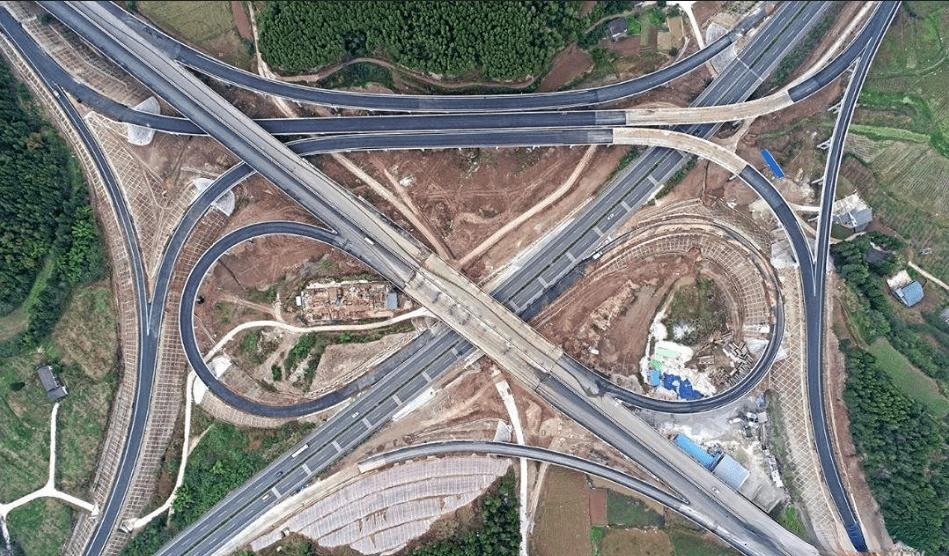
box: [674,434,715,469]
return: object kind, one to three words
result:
shed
